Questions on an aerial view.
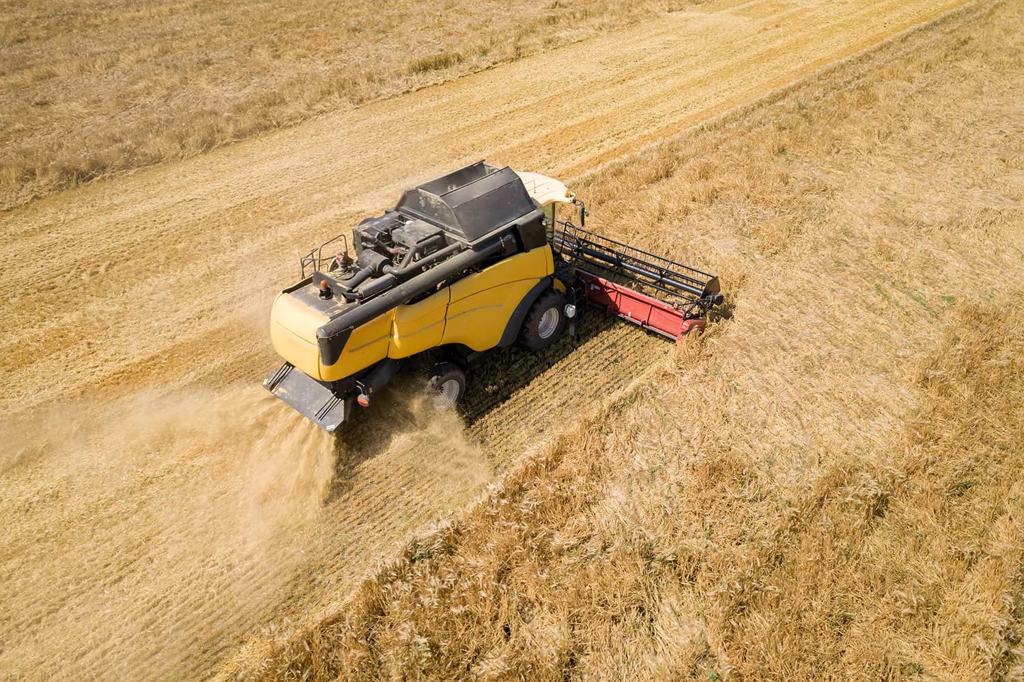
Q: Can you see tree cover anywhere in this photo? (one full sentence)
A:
No, no tree cover is visible.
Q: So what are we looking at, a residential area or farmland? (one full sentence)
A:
It's farmland.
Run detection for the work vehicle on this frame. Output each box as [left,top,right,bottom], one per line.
[264,158,725,436]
